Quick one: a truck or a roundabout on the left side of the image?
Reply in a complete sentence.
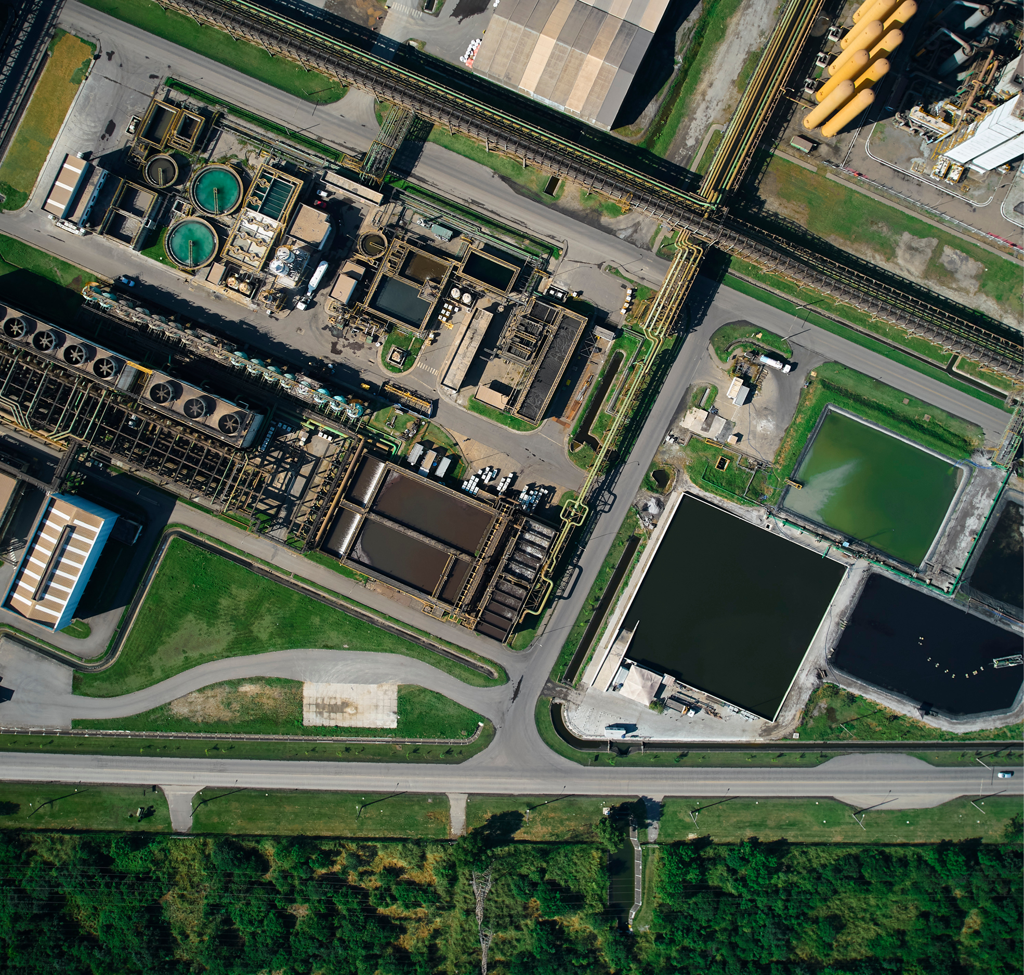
You can see a truck on the left side of the image.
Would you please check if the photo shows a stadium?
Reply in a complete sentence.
No, the frame has no stadium in it.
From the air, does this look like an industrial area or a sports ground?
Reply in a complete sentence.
This image shows an industrial area.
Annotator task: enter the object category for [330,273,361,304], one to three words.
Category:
shed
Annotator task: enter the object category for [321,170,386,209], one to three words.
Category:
building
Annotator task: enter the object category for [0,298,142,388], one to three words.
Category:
cooling tower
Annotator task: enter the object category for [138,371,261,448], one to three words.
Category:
cooling tower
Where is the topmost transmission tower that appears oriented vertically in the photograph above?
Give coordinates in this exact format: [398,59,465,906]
[473,862,491,928]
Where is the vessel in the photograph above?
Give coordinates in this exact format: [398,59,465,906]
[989,652,1024,672]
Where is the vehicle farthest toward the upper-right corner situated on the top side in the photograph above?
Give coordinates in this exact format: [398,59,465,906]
[759,355,792,373]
